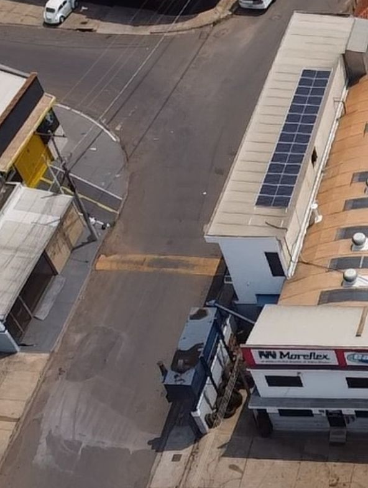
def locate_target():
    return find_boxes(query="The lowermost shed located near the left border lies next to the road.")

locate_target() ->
[0,189,83,367]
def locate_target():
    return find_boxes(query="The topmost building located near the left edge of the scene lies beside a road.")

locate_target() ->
[0,68,93,220]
